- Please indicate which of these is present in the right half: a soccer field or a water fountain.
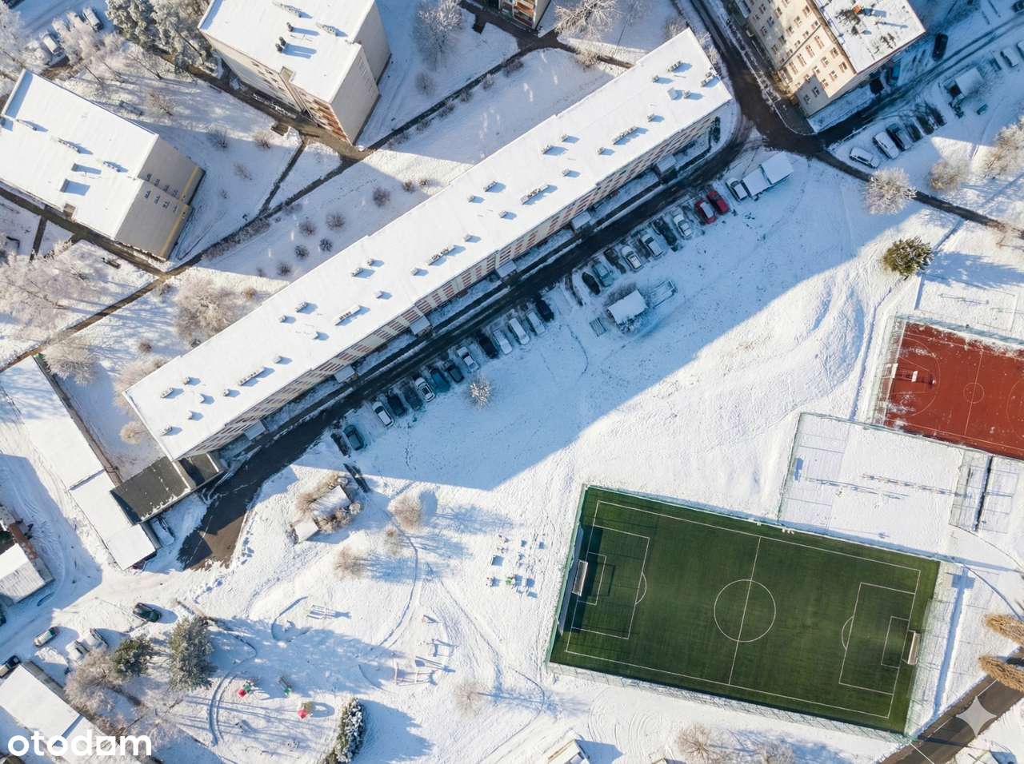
soccer field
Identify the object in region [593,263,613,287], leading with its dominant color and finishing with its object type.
blue car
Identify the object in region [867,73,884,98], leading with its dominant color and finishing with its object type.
black car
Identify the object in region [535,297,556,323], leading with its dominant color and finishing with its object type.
black car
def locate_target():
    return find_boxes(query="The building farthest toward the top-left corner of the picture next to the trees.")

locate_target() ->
[0,61,205,257]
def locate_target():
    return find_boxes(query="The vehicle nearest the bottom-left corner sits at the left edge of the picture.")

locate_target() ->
[0,654,22,677]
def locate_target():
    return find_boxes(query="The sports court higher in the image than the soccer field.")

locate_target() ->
[872,320,1024,458]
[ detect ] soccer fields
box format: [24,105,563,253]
[549,485,940,736]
